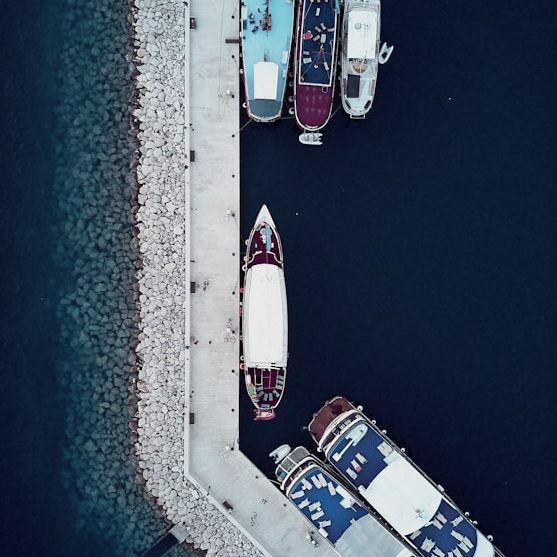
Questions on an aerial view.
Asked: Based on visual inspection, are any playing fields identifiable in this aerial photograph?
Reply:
No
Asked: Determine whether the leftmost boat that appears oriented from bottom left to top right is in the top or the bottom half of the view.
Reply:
bottom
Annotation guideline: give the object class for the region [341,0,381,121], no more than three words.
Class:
boat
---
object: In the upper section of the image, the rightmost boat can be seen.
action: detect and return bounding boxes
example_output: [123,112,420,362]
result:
[380,41,394,64]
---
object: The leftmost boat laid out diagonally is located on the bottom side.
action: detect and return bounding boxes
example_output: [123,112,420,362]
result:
[268,443,291,463]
